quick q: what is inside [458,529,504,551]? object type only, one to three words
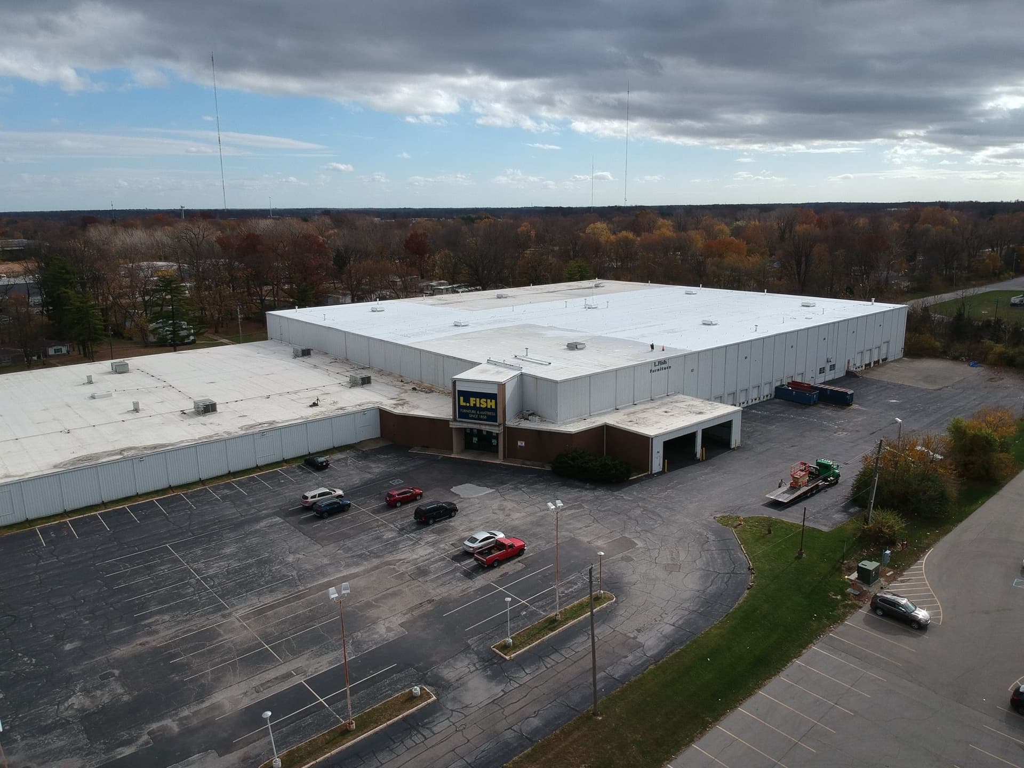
car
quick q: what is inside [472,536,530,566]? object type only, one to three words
truck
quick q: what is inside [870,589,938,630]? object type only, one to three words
car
